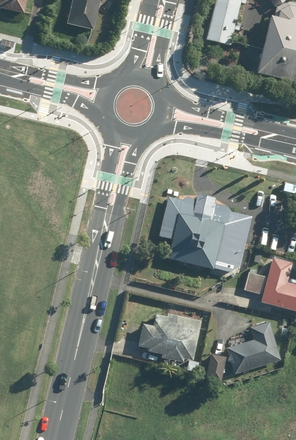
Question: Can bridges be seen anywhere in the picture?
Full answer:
No, there appears to be no bridge in this shot.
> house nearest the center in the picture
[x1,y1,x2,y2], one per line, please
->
[158,196,252,273]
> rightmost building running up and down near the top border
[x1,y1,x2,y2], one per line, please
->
[258,2,296,83]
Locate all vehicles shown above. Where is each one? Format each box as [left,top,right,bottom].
[98,302,106,316]
[58,375,66,391]
[89,296,98,312]
[288,238,296,252]
[99,0,110,16]
[104,231,113,248]
[214,340,222,356]
[260,228,270,246]
[156,64,163,78]
[256,192,264,208]
[40,417,48,432]
[142,352,158,362]
[268,195,277,211]
[270,234,279,251]
[93,318,102,333]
